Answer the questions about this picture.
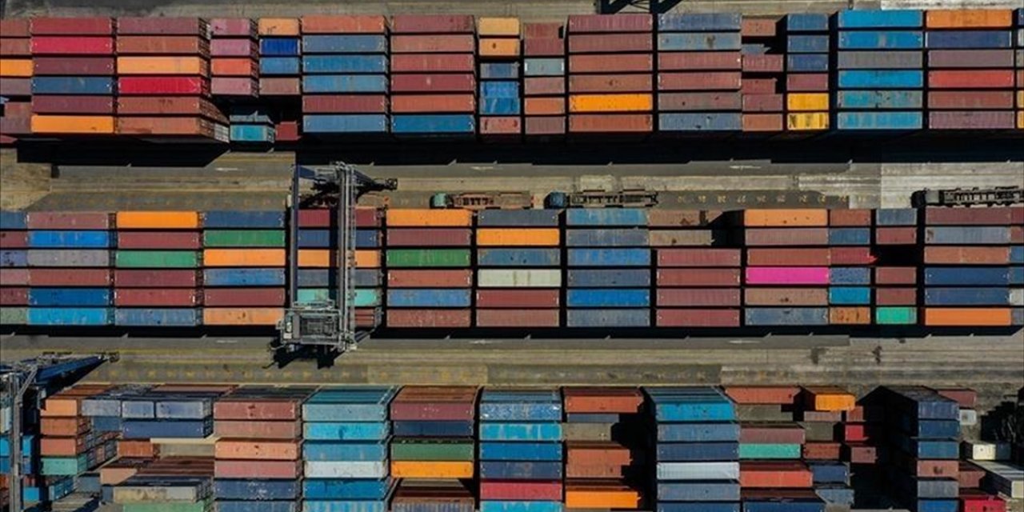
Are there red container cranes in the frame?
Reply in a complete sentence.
No, there's no red container crane here.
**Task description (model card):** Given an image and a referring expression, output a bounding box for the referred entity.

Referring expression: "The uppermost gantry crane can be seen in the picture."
[273,158,397,360]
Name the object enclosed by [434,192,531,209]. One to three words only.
vehicle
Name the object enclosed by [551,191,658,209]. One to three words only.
vehicle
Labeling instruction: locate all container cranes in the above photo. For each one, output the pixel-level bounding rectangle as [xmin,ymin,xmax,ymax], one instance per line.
[0,350,120,512]
[273,158,397,360]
